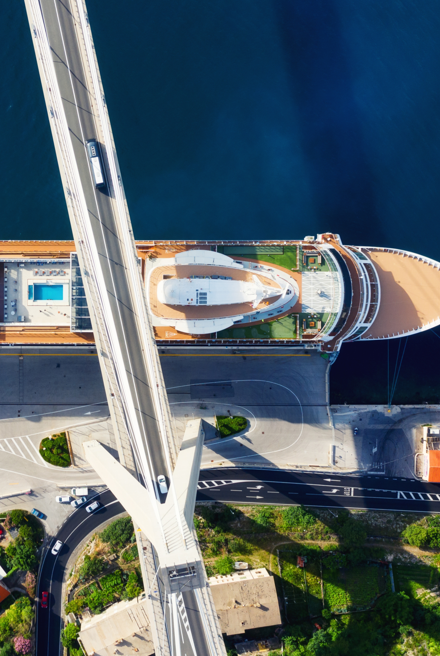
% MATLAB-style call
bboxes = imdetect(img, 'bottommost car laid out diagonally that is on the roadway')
[50,539,63,554]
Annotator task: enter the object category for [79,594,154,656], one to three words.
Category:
building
